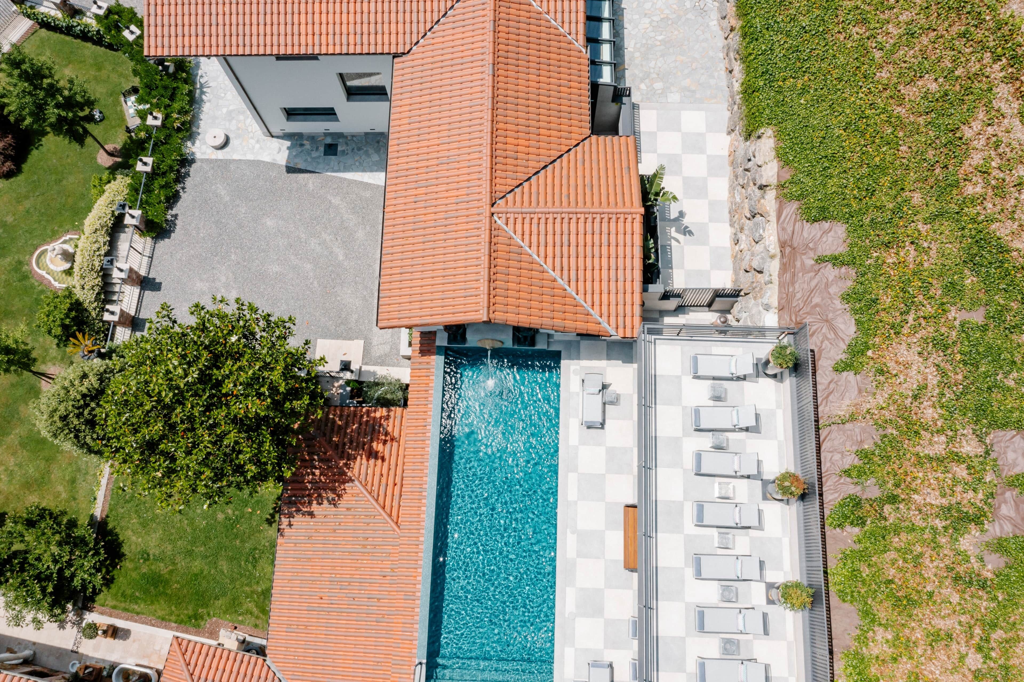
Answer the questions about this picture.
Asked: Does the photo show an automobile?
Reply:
No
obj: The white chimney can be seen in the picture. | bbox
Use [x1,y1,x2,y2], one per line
[219,622,254,649]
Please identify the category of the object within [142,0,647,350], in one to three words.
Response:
house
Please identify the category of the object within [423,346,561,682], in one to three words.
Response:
swimming pool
